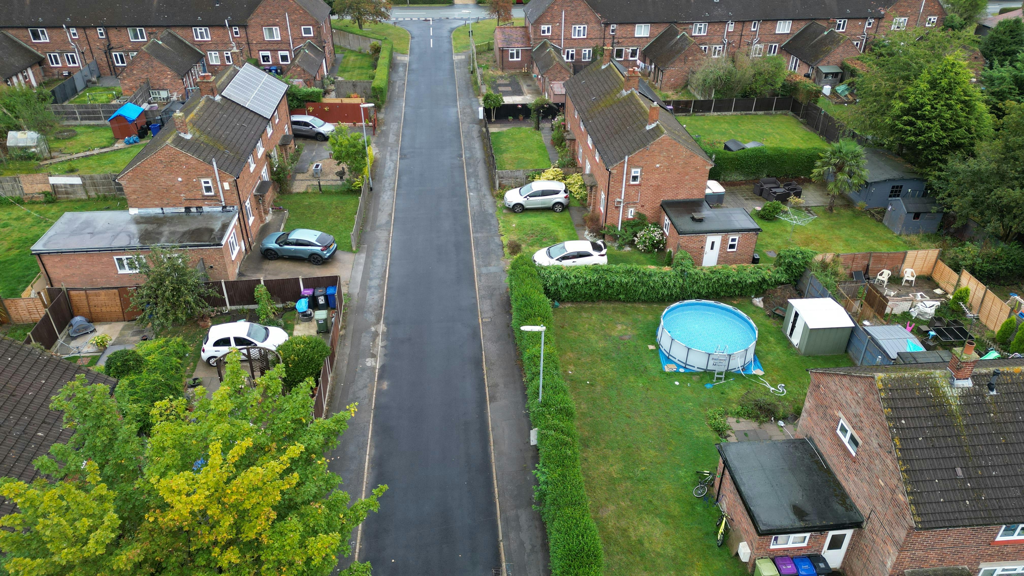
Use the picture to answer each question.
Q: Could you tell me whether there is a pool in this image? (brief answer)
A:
Yes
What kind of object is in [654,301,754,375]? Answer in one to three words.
swimming pool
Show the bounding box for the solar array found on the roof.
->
[215,61,287,119]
